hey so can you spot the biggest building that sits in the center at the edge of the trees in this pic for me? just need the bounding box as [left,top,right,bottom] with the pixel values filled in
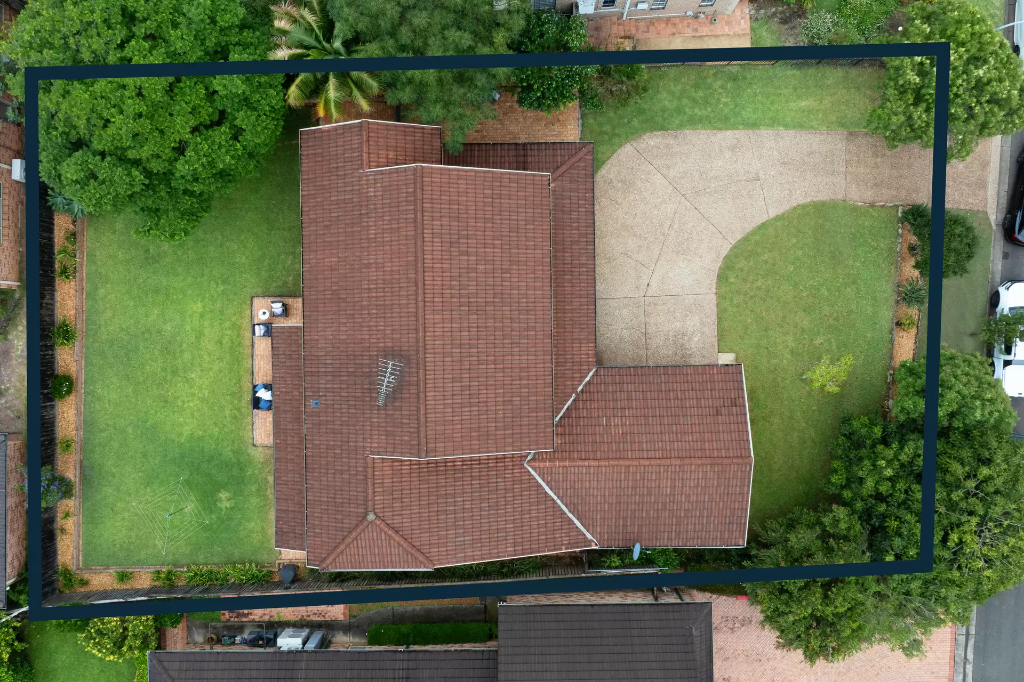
[298,119,755,573]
